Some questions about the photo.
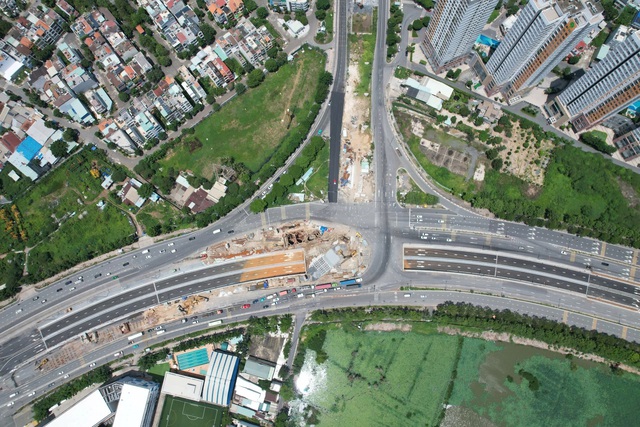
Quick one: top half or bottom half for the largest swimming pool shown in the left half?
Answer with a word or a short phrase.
bottom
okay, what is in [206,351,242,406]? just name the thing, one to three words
building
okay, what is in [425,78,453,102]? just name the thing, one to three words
building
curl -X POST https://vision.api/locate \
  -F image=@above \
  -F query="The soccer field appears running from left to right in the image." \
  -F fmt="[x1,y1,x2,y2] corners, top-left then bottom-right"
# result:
[159,396,232,427]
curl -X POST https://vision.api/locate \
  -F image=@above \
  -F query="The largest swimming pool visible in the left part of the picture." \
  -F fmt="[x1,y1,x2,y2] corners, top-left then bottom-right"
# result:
[176,348,211,371]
